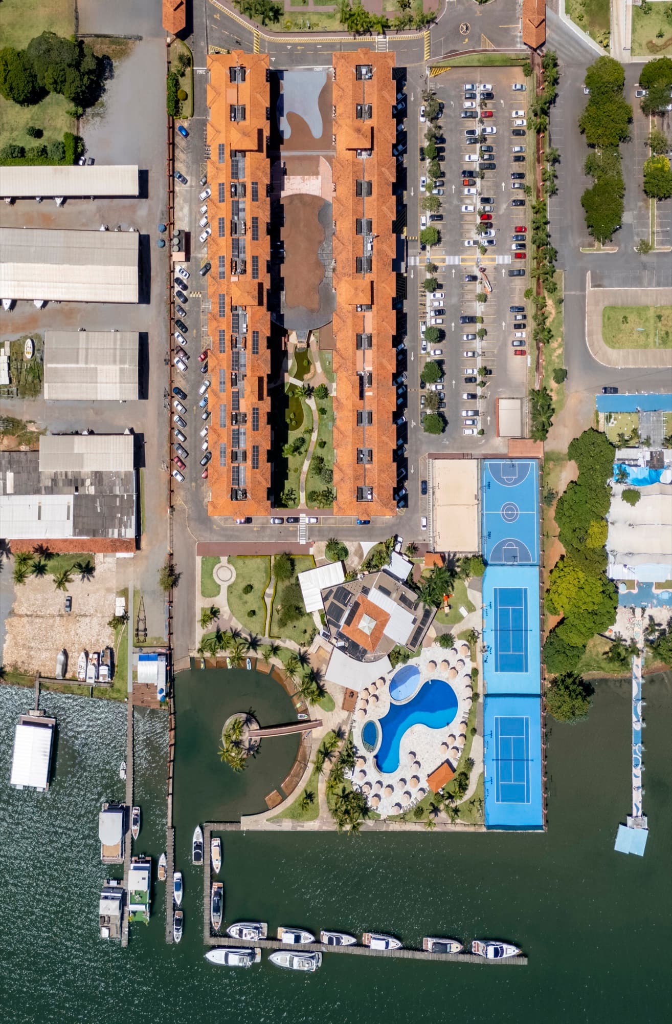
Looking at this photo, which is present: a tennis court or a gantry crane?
tennis court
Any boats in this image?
Yes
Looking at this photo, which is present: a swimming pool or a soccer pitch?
swimming pool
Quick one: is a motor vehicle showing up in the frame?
Yes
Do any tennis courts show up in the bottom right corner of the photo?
Yes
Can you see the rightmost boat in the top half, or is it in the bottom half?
bottom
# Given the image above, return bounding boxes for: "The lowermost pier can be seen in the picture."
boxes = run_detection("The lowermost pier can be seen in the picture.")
[210,936,528,964]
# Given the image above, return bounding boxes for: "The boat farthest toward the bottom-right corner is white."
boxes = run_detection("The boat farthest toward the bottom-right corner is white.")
[471,939,522,959]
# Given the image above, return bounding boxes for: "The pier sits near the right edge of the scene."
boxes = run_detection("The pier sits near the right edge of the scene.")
[613,653,648,856]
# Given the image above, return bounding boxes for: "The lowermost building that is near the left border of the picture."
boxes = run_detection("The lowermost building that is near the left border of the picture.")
[10,709,60,790]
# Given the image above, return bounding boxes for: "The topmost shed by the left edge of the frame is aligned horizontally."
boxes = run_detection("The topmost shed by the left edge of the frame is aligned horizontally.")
[0,165,141,201]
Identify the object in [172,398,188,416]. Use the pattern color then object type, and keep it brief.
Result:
white vehicle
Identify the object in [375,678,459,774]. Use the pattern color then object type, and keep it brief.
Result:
blue swimming pool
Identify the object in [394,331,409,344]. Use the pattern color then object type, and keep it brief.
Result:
black vehicle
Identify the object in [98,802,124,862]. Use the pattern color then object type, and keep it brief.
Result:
white boat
